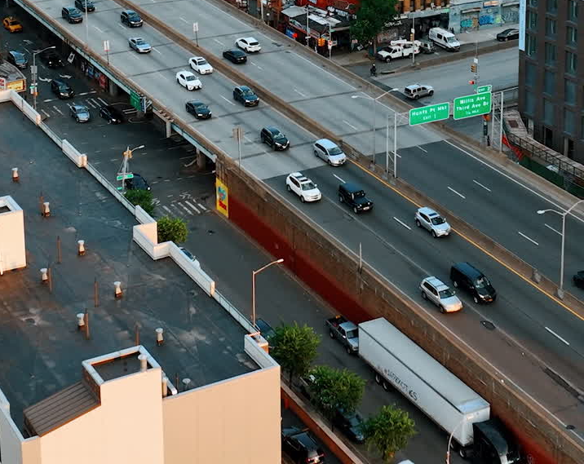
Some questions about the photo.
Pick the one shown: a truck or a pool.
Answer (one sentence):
Looking from above, you can make out a truck.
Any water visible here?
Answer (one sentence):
No, the scene doesn't show any water.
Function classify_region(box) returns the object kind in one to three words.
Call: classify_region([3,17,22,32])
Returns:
car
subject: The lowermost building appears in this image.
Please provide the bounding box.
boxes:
[0,90,280,464]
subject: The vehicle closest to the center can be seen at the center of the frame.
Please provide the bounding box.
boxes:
[285,171,323,201]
